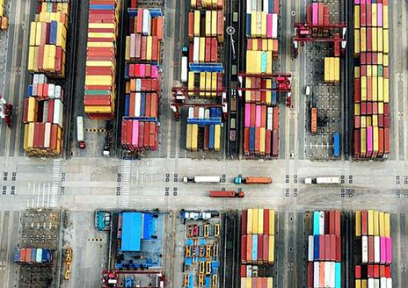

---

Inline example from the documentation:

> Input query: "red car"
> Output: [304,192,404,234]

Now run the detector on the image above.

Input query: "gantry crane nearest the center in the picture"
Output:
[169,88,229,125]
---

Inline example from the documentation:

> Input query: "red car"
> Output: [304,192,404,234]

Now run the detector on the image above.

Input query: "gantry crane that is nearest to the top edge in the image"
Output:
[293,21,349,62]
